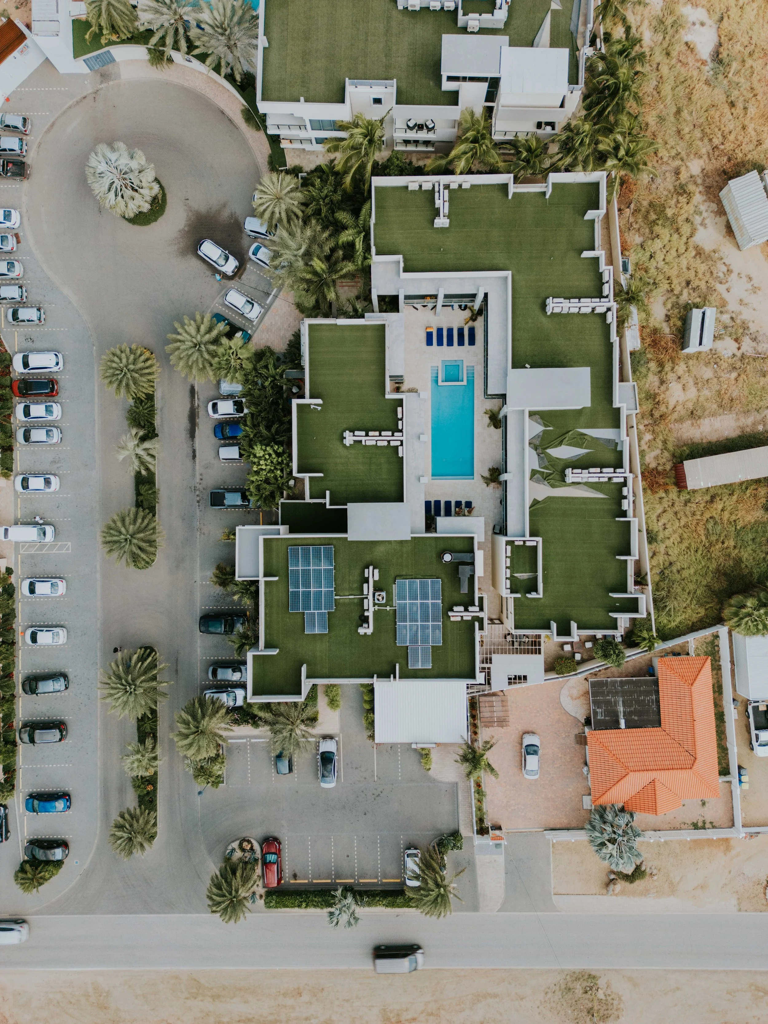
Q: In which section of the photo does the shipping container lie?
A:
right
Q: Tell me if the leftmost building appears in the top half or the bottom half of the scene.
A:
top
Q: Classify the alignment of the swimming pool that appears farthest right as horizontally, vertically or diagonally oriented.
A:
vertically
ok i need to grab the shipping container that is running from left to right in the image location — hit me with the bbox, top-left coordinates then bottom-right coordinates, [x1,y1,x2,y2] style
[674,445,768,490]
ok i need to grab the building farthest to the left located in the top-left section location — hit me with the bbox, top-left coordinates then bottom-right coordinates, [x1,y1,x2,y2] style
[0,8,45,105]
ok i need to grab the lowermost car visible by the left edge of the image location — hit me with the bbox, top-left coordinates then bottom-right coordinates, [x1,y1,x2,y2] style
[0,920,26,943]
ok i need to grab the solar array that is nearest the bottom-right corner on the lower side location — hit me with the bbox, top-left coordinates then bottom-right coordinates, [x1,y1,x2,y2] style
[395,580,442,668]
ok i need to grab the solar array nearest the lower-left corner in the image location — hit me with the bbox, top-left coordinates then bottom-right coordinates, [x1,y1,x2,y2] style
[288,546,335,633]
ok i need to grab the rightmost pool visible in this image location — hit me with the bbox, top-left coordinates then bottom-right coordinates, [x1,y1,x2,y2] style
[431,358,474,479]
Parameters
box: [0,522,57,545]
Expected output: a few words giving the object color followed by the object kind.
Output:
white vehicle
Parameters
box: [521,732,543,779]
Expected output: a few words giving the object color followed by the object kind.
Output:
white car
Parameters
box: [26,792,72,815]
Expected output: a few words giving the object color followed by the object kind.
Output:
blue car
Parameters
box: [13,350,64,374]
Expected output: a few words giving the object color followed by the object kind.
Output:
white car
